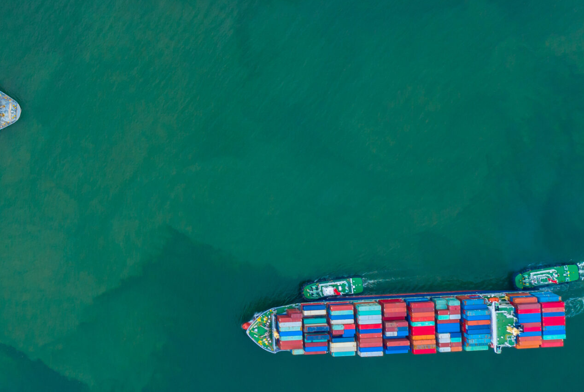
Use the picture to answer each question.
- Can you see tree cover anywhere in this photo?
No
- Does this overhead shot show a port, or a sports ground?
port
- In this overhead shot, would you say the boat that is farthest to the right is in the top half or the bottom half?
bottom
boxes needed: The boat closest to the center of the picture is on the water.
[301,274,363,300]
